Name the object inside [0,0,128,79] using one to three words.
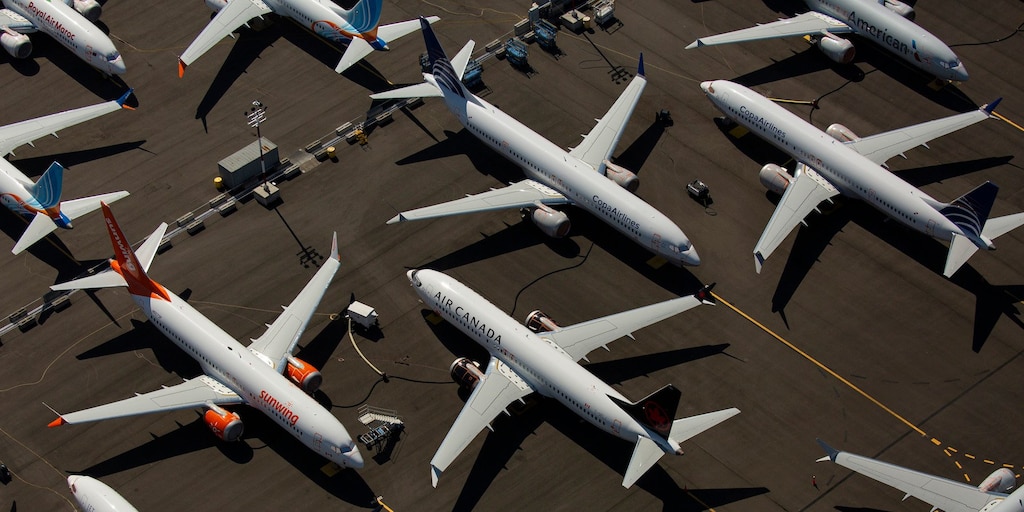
airplane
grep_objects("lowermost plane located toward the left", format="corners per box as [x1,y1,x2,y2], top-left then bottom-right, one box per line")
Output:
[66,476,132,512]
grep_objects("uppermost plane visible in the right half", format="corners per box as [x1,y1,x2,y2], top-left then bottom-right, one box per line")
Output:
[682,0,970,85]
